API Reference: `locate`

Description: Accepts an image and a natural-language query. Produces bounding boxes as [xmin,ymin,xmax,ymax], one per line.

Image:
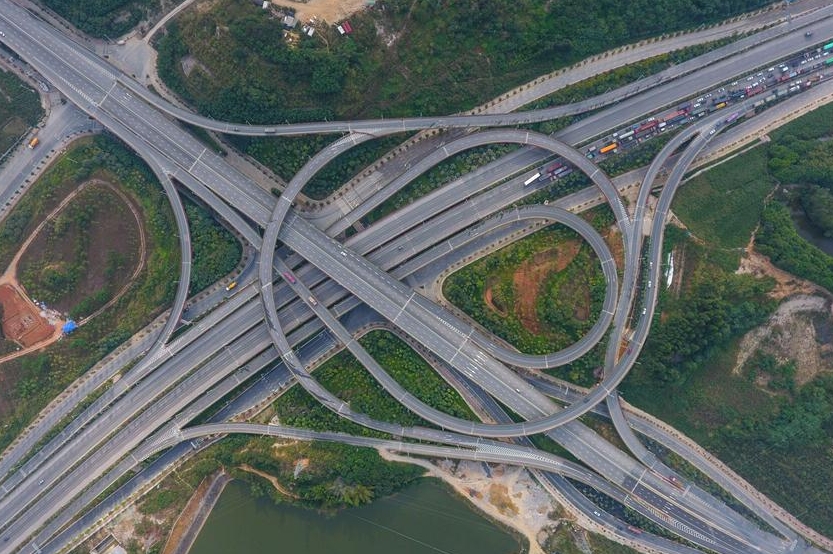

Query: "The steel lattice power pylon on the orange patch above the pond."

[292,456,308,478]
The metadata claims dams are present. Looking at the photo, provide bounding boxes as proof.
[158,465,231,554]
